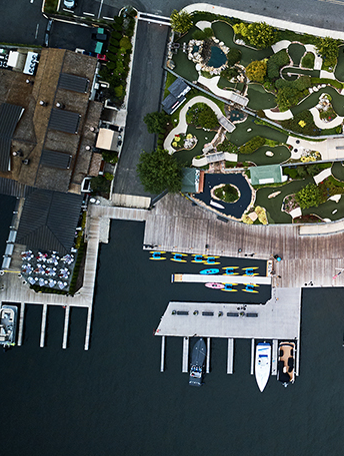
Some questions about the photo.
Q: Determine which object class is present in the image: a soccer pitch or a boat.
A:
boat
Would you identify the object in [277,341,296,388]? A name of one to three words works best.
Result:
boat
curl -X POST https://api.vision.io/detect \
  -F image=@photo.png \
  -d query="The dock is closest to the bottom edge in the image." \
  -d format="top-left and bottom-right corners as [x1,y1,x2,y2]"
[155,287,302,377]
